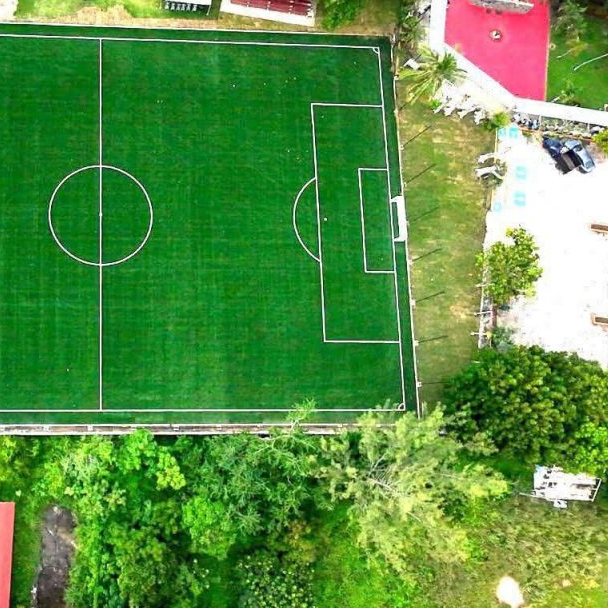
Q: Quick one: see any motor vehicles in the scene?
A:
Yes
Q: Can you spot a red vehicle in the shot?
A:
No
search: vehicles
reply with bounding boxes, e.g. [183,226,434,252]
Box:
[545,133,583,178]
[570,138,602,176]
